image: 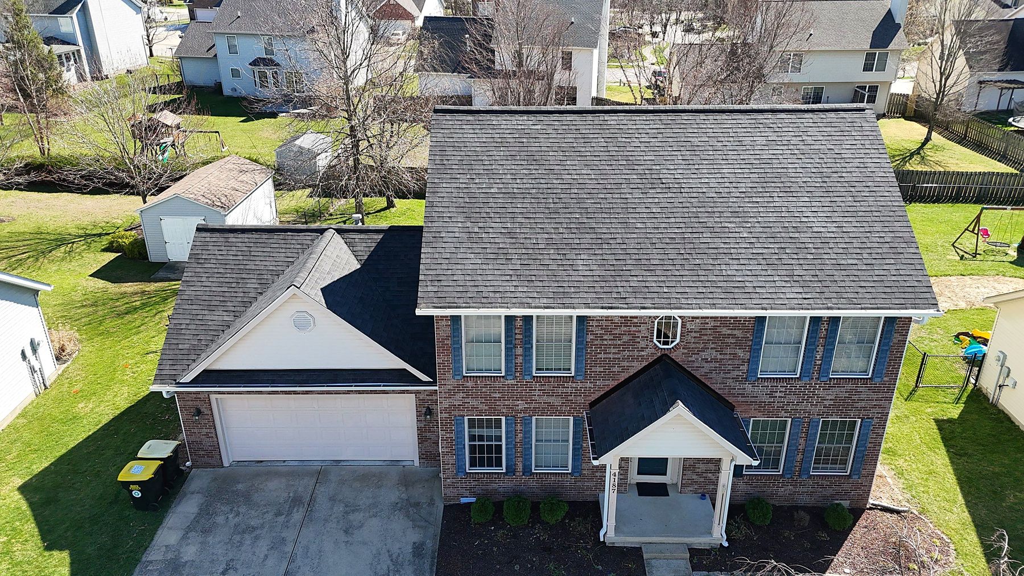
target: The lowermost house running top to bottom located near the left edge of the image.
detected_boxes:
[0,281,60,424]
